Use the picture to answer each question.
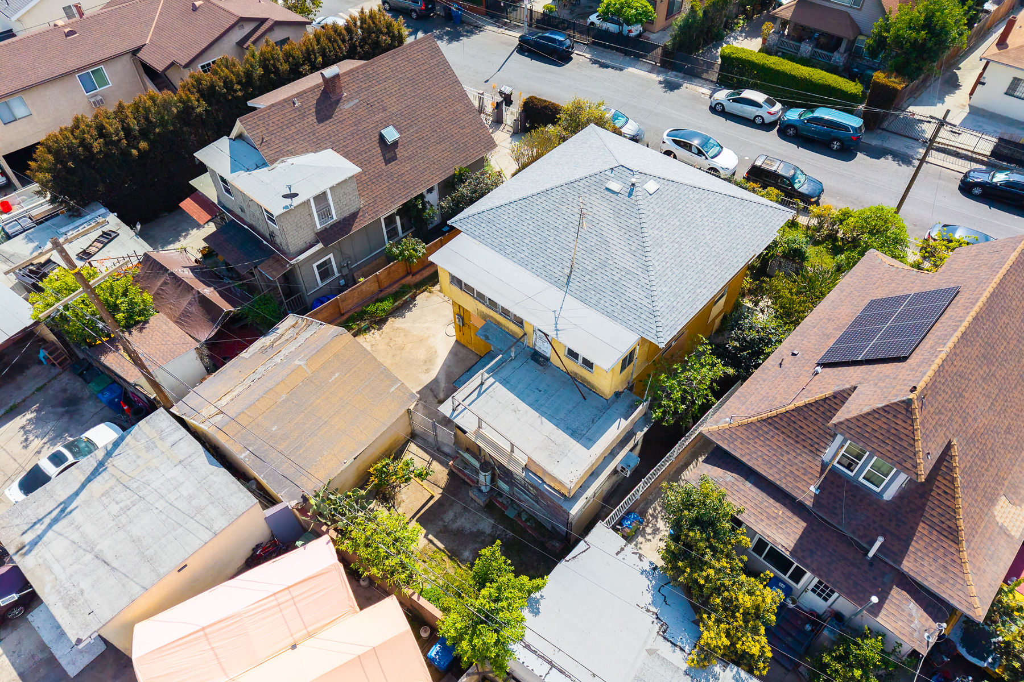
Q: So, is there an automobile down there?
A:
Yes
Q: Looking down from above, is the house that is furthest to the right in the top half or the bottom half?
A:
top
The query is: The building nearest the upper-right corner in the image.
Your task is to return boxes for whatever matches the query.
[964,11,1024,125]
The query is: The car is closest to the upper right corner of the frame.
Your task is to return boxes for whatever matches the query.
[962,167,1024,207]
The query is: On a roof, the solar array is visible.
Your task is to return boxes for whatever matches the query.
[814,293,949,369]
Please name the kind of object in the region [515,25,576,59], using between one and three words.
car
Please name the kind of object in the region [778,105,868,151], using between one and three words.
car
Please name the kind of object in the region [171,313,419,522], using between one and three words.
building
